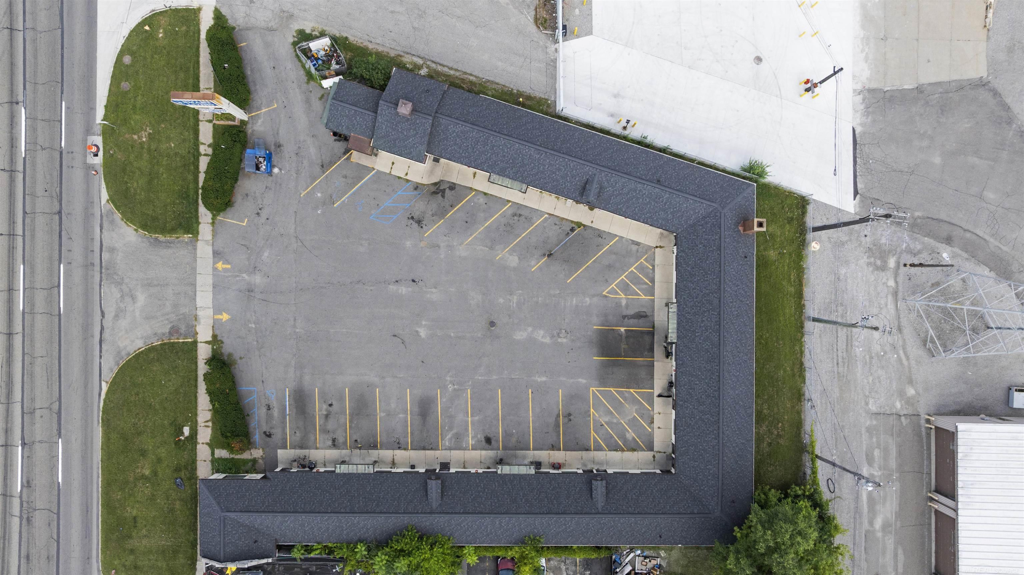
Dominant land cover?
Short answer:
paved ground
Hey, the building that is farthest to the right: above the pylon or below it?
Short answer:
below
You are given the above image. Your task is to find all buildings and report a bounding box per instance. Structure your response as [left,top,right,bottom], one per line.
[930,416,1024,575]
[198,67,766,570]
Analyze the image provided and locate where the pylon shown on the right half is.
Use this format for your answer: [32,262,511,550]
[901,268,1024,359]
